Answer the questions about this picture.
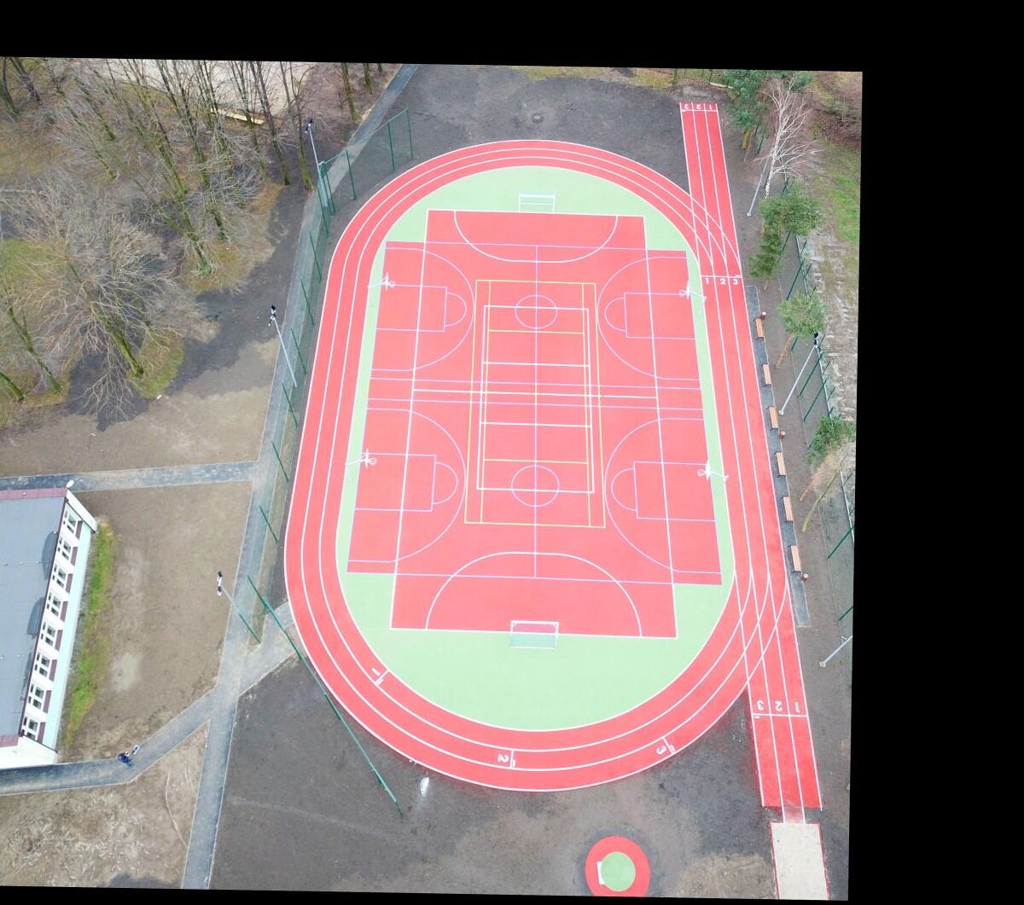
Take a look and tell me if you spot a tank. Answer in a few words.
No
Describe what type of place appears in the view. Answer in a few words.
sports ground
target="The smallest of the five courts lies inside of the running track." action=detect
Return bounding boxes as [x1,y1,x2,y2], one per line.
[477,305,594,493]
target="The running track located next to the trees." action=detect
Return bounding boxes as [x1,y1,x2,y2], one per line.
[287,101,822,823]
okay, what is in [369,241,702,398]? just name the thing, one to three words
basketball court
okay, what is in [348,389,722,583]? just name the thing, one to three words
basketball court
